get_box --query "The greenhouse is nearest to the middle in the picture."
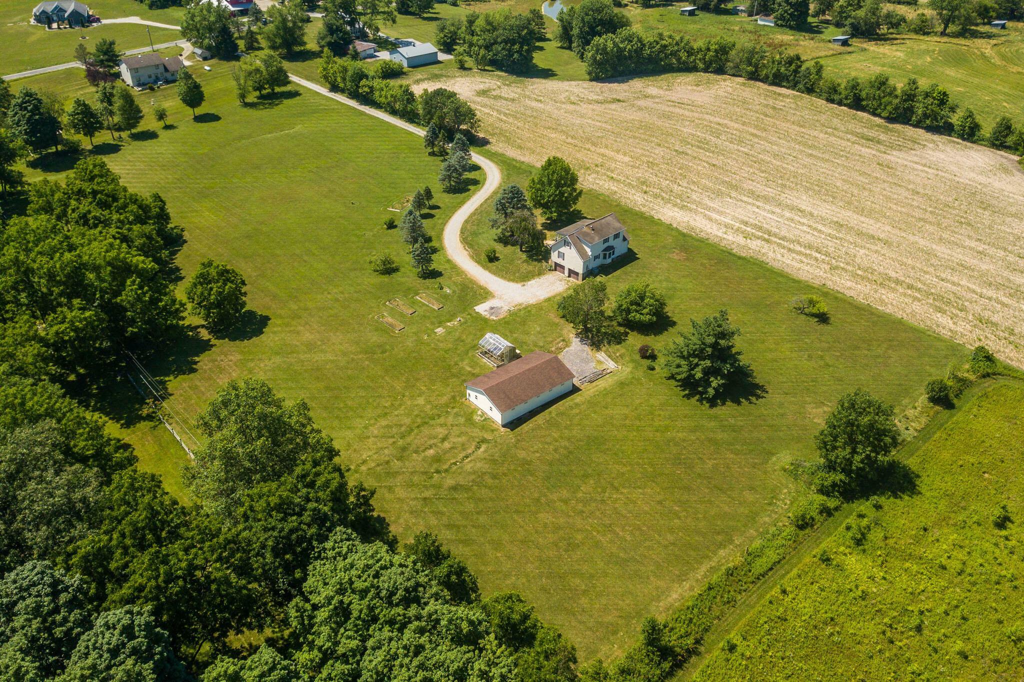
[477,333,519,367]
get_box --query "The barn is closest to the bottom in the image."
[464,351,577,427]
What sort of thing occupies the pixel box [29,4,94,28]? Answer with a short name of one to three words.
house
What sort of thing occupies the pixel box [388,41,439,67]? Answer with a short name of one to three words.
barn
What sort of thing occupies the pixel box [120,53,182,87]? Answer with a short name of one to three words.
house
